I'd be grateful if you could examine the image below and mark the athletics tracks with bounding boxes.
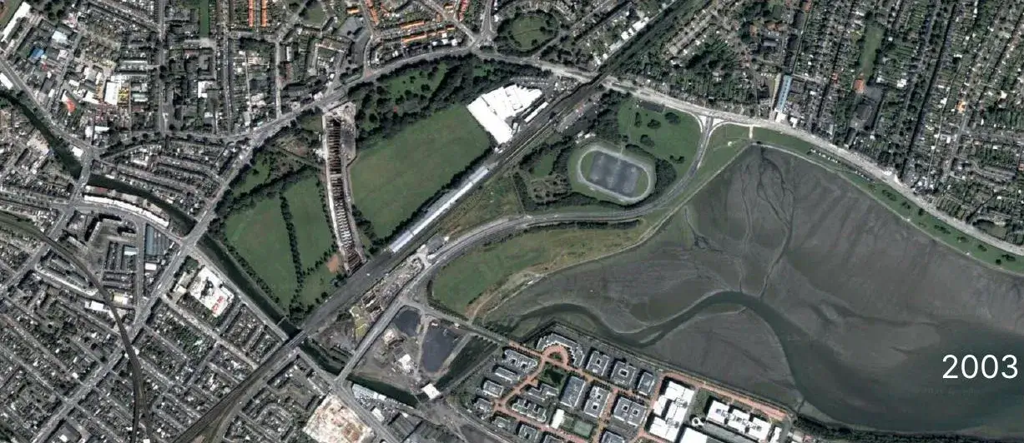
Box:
[575,144,657,205]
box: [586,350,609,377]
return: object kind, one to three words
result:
building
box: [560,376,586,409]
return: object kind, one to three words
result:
building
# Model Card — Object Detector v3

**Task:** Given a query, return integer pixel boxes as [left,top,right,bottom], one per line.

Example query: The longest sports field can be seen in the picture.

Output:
[350,103,491,250]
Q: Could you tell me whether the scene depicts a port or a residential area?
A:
residential area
